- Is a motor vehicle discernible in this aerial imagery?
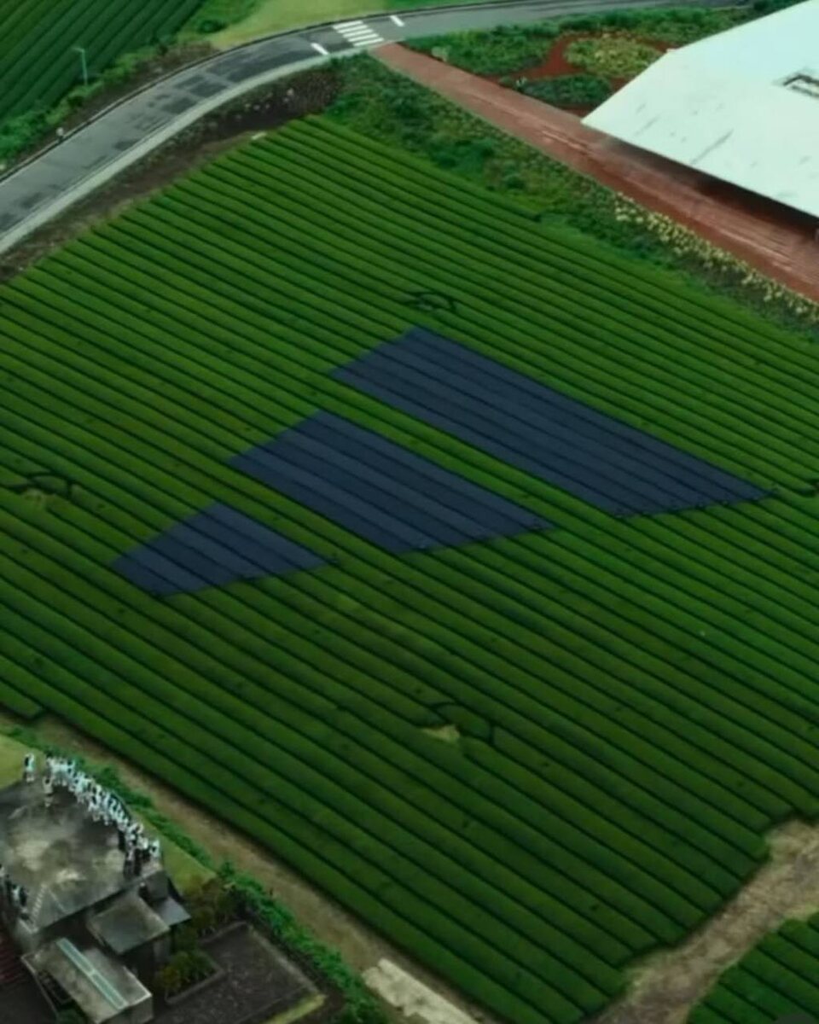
No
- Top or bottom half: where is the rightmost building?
top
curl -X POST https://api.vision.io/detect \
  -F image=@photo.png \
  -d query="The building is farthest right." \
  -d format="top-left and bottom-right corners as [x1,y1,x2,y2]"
[580,0,819,243]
